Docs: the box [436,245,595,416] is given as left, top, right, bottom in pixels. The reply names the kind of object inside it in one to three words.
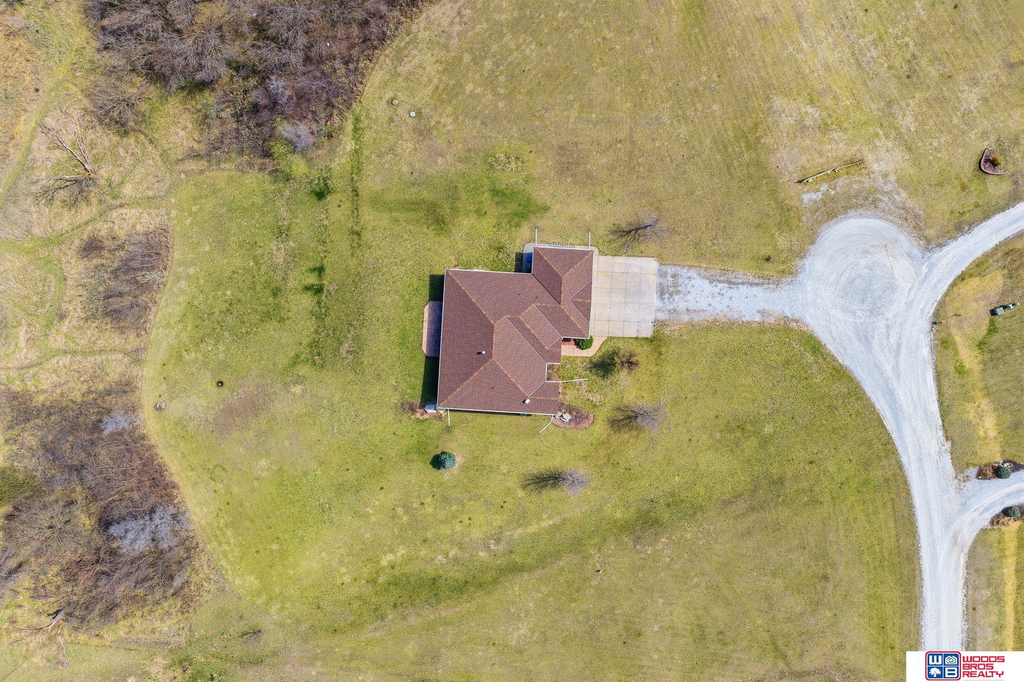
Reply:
house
